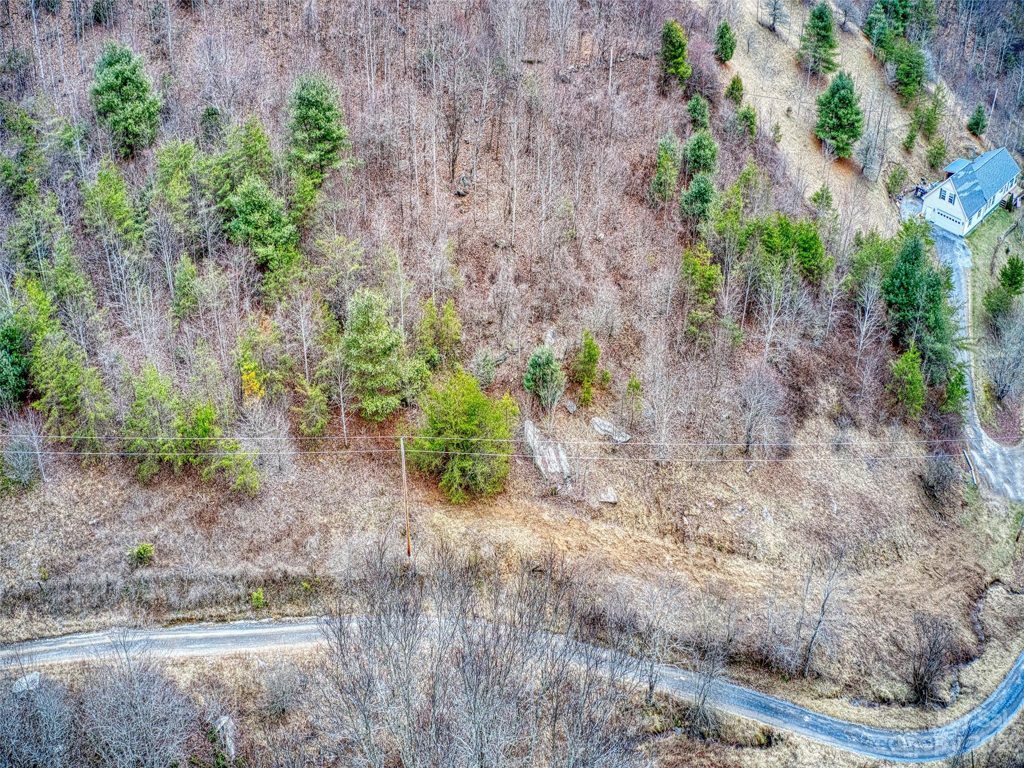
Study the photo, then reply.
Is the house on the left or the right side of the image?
right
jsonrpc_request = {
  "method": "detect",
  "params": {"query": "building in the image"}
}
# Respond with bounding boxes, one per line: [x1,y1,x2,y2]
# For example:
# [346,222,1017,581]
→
[914,142,1023,238]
